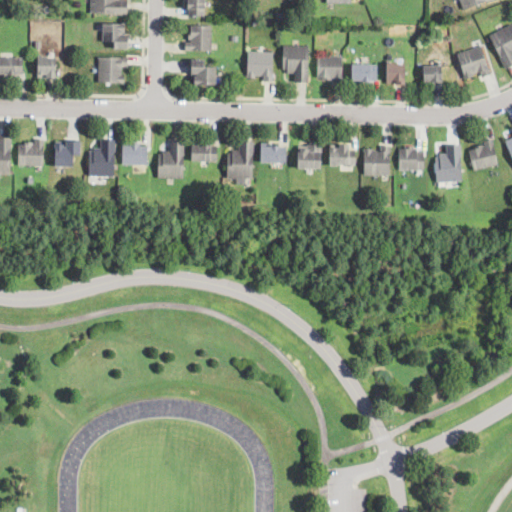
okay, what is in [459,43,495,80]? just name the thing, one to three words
house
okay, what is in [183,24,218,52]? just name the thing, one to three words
house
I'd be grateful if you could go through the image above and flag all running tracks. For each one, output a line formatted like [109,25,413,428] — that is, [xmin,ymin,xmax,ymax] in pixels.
[58,398,276,512]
